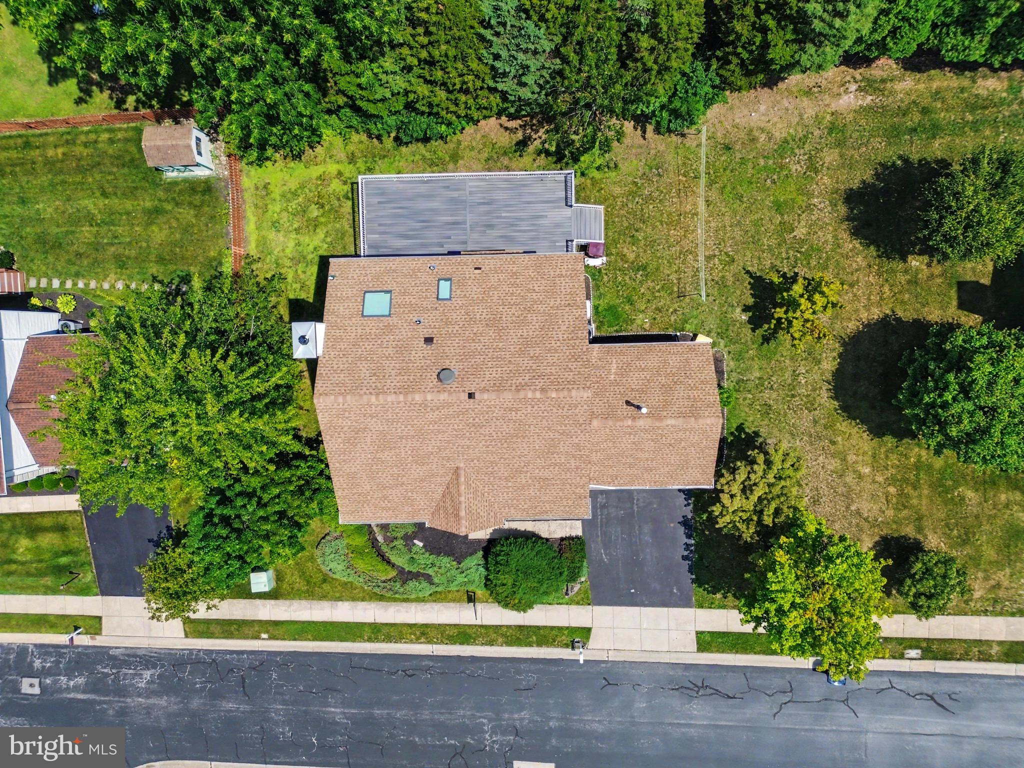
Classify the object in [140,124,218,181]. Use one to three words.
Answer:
shed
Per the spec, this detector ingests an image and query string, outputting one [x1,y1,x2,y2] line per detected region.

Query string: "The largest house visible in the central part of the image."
[293,250,724,535]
